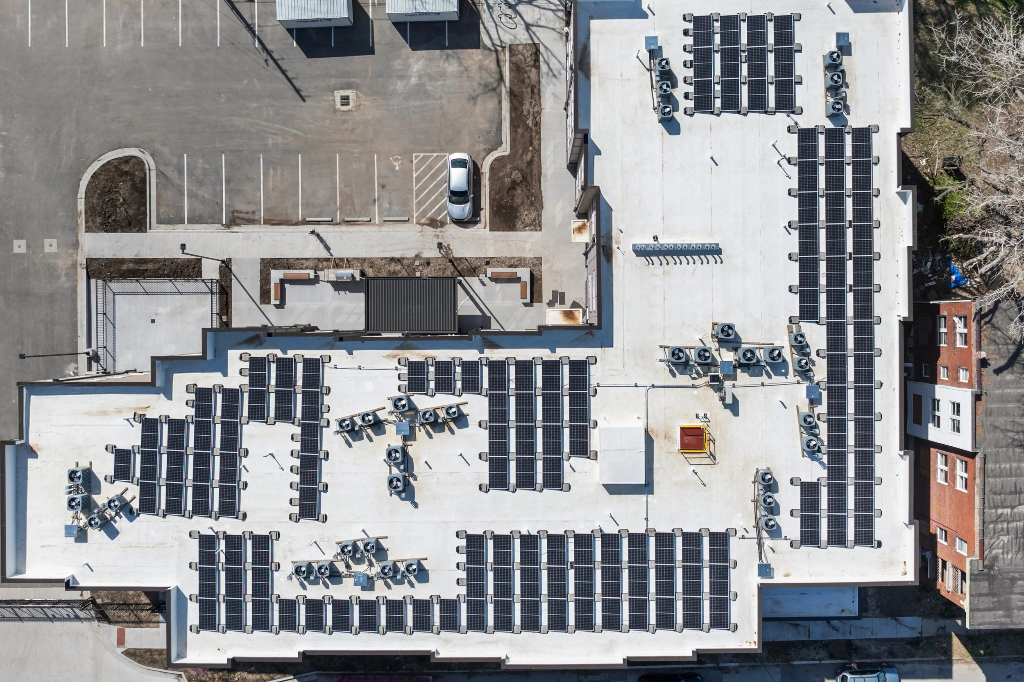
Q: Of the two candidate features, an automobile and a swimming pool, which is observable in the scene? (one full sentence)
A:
The image shows an automobile.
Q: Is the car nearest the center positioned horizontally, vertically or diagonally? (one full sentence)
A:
In this picture, the car nearest the center lies vertically.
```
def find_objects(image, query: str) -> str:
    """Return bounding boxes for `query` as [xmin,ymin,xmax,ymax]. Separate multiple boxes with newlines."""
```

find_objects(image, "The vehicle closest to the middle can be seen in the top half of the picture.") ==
[444,153,474,220]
